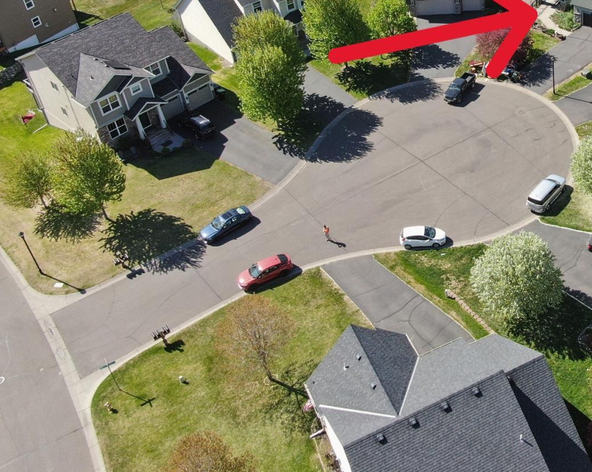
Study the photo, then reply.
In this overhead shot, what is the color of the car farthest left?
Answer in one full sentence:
The color of the car farthest left is black.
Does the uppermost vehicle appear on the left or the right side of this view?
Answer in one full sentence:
The uppermost vehicle sits on the right side.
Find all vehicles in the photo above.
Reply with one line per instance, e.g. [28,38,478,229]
[197,199,255,241]
[235,250,297,293]
[523,173,575,215]
[443,67,482,102]
[398,226,447,252]
[171,115,222,140]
